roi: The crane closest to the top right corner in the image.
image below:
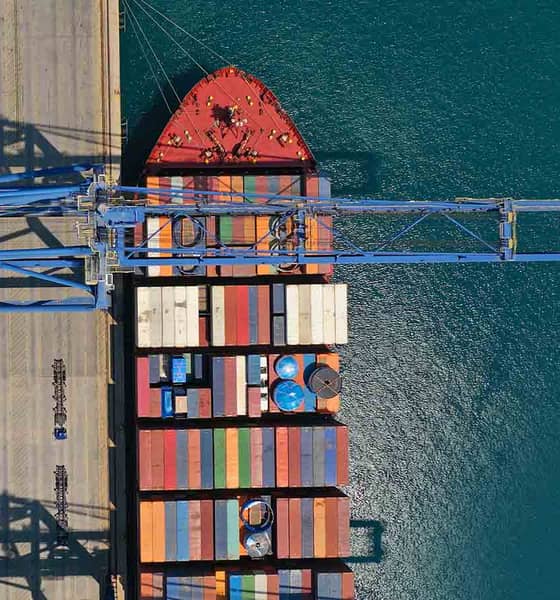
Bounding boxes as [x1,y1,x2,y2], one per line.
[0,160,560,309]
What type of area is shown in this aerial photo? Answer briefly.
port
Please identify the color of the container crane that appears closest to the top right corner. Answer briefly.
blue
